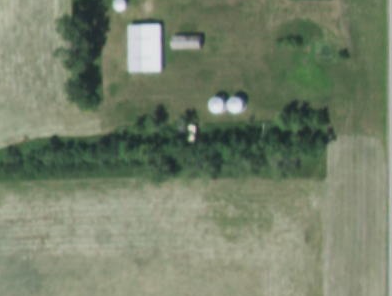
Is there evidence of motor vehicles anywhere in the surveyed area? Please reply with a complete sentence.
No, there appears to be no motor vehicle in this shot.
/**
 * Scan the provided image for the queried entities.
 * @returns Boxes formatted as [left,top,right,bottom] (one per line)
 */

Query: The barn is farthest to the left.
[129,24,163,72]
